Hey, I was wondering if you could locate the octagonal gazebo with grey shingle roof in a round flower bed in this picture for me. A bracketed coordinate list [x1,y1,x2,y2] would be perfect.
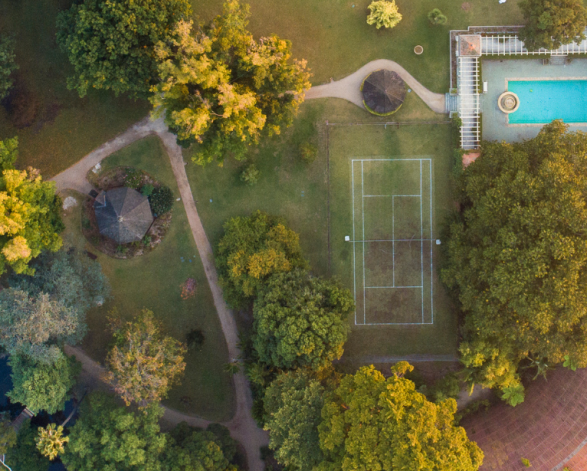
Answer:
[92,186,153,243]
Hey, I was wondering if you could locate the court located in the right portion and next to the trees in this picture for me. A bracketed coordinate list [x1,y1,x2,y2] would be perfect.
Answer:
[333,138,451,345]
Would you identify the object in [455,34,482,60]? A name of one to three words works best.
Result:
building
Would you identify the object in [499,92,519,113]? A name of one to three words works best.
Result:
fountain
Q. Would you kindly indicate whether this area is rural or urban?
rural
